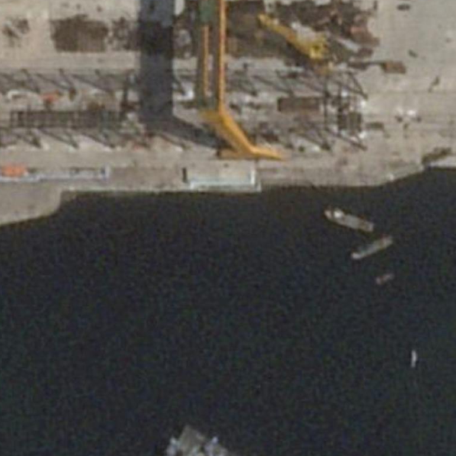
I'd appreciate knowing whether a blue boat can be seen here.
No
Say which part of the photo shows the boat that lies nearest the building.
right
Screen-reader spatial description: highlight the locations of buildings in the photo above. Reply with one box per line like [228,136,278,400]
[186,167,256,187]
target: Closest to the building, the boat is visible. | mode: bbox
[325,211,376,236]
